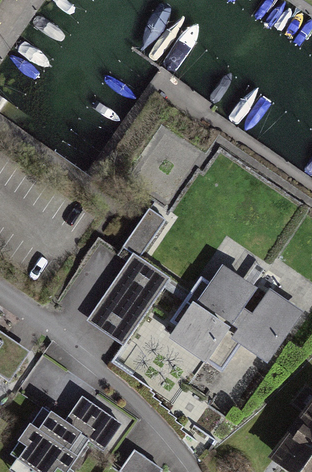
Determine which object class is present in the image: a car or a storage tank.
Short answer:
car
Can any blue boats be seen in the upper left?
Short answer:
Yes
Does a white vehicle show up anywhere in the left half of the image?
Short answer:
Yes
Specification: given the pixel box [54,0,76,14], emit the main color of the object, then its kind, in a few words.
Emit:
white boat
